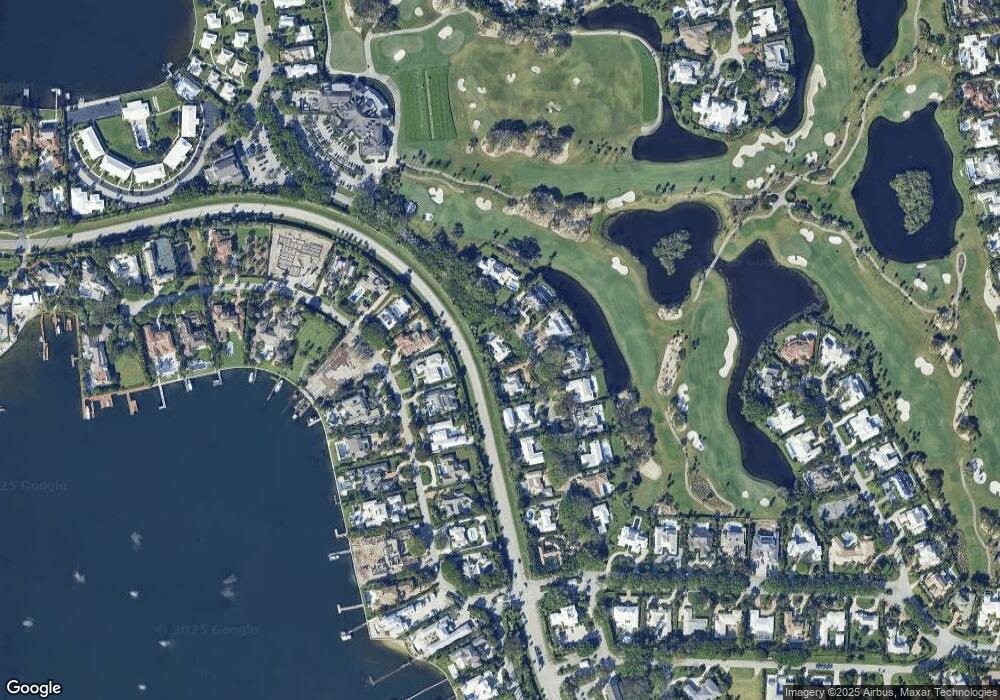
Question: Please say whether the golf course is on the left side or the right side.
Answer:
right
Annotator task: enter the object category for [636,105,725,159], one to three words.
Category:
pond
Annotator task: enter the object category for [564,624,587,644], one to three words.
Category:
house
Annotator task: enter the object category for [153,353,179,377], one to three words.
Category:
swimming pool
